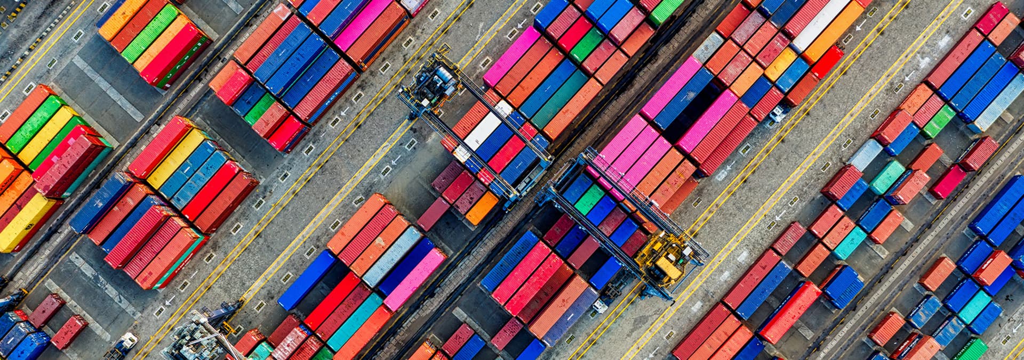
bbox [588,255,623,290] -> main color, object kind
blue shipping container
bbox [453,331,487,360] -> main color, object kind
blue shipping container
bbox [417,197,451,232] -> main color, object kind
red shipping container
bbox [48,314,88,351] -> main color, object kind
red shipping container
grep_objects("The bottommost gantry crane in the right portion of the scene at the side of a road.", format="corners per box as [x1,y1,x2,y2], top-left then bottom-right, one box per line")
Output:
[535,144,710,306]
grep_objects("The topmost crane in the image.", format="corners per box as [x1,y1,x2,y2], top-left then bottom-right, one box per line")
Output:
[393,41,564,215]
